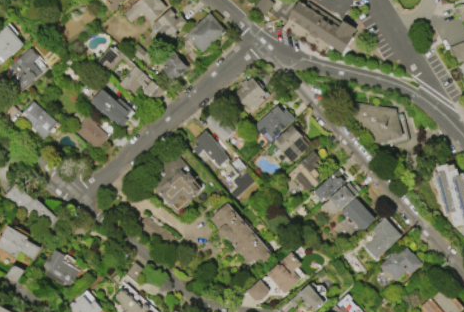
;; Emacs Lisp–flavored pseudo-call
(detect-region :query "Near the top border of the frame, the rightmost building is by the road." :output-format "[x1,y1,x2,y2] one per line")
[286,0,362,53]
